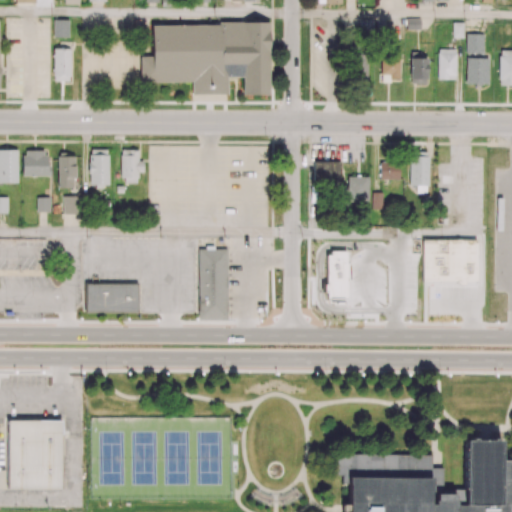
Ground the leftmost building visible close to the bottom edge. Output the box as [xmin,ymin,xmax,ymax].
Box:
[8,420,64,491]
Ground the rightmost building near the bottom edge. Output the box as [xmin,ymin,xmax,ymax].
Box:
[340,441,512,512]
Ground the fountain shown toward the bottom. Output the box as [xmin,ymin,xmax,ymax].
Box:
[268,462,284,478]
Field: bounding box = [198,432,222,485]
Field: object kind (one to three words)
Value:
tennis court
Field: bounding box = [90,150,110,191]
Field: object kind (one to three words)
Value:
house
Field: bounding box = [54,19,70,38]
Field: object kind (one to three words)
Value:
building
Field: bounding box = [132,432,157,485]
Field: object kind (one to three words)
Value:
tennis court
